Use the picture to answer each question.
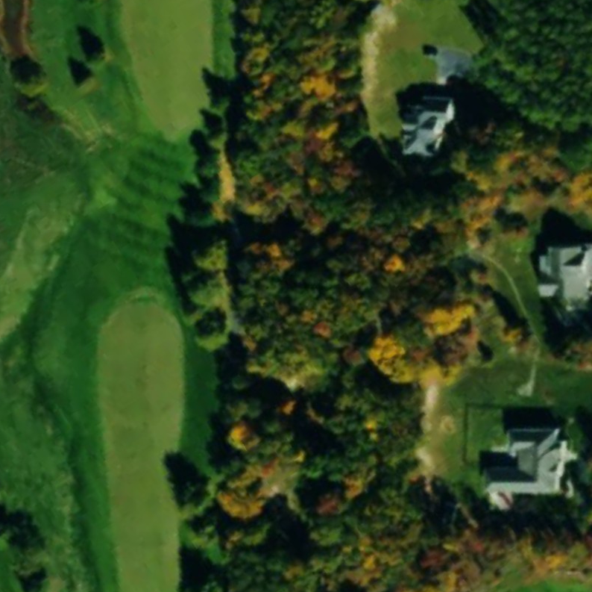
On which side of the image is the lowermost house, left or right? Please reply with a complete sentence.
It is on the right.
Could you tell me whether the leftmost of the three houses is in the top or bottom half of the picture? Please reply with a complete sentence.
The leftmost of the three houses sits in the top half of the picture.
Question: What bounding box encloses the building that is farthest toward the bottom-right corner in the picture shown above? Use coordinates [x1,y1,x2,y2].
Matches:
[486,431,575,508]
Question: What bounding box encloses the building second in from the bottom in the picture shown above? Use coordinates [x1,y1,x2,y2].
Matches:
[540,248,592,303]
